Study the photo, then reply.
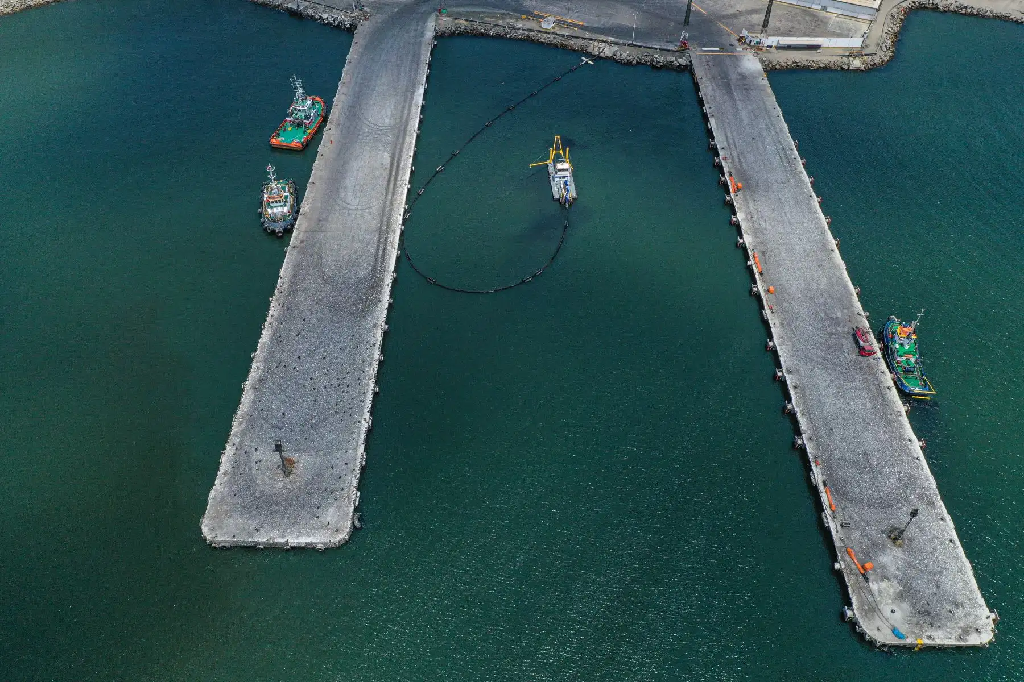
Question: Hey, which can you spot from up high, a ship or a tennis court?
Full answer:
I can see a ship in this picture.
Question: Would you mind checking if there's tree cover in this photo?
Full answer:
No, tree cover can't be seen anywhere here.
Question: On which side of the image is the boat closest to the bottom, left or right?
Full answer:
The boat closest to the bottom appears in the right half of the scene.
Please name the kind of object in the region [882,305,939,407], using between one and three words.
boat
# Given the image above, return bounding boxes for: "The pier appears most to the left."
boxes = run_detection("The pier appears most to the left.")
[201,19,434,548]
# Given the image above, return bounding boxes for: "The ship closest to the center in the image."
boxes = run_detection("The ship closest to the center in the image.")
[528,134,578,213]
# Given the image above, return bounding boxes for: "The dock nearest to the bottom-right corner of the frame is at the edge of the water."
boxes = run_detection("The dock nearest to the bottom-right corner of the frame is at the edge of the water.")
[691,52,997,646]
